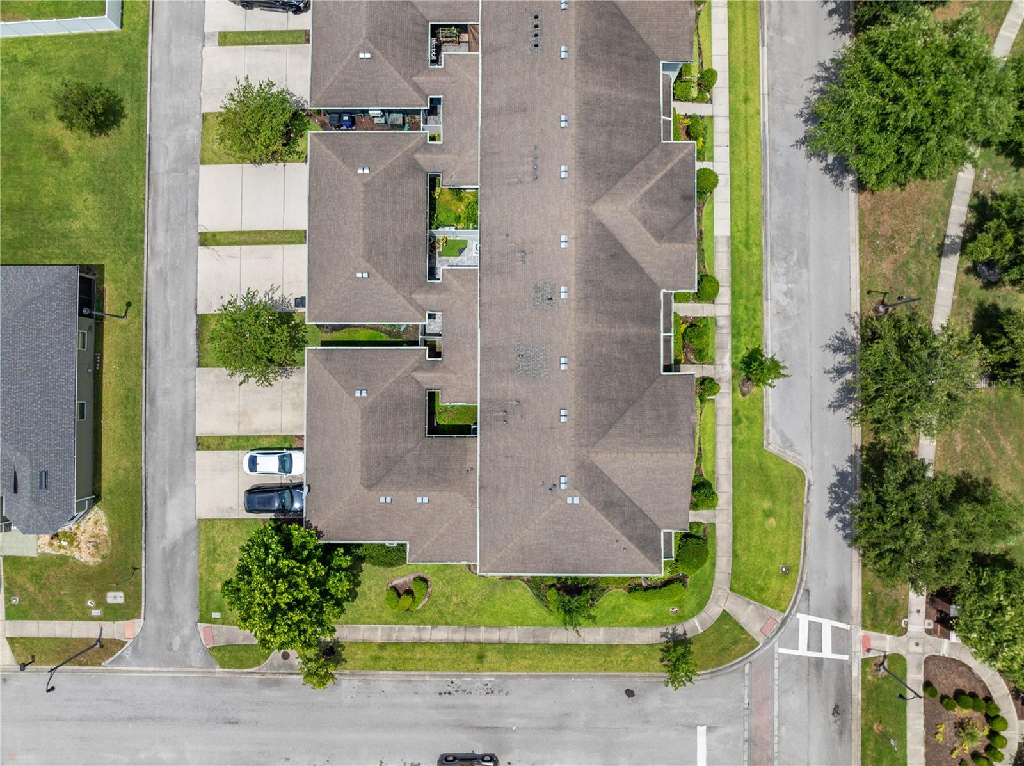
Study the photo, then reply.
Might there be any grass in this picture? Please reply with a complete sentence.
Yes, some grass is visible.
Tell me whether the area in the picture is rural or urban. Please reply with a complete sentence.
The area is urban.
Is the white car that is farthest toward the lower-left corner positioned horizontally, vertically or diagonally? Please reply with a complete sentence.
Seen from above, the white car that is farthest toward the lower-left corner lies horizontally.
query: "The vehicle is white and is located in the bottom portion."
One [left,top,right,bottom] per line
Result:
[242,447,306,478]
